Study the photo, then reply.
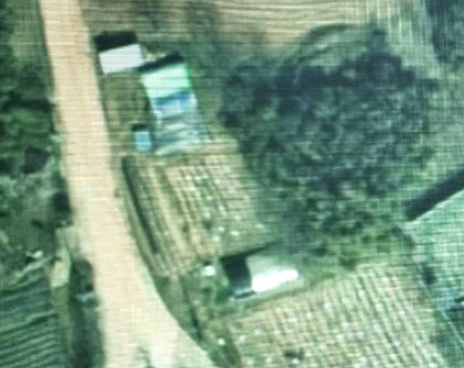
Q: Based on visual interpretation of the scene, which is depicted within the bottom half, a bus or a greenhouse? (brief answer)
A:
greenhouse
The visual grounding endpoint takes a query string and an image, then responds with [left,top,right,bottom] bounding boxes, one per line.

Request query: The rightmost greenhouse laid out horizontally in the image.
[221,244,299,295]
